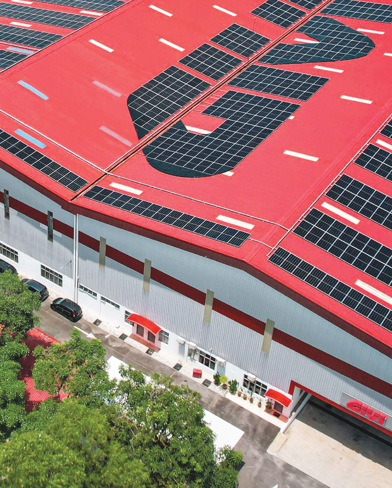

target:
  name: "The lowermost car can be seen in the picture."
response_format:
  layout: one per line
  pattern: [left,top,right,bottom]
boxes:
[45,299,85,329]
